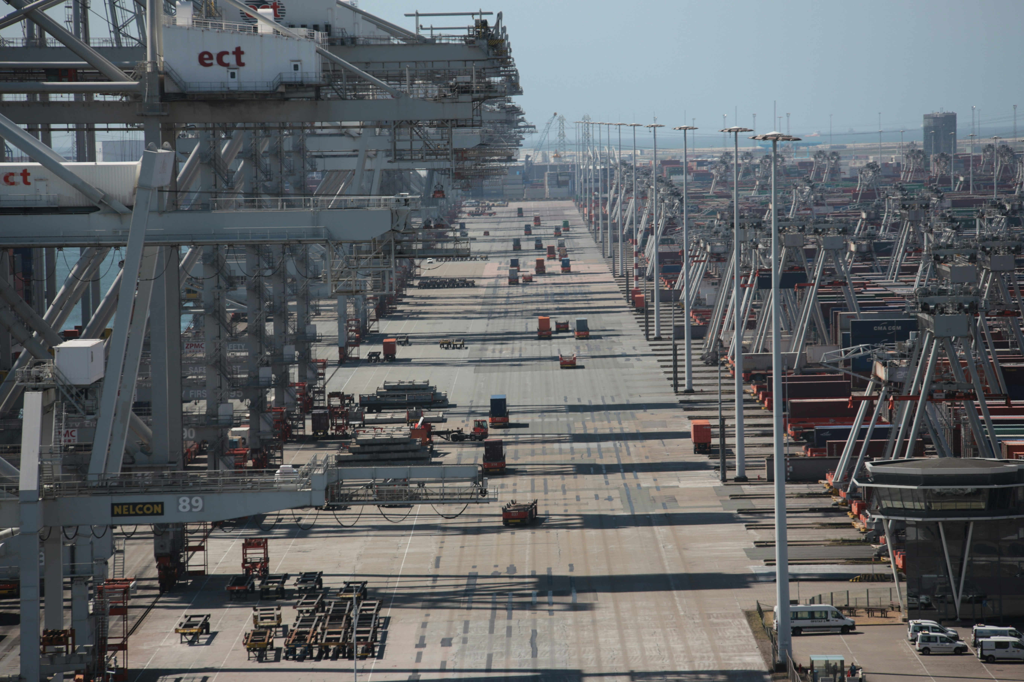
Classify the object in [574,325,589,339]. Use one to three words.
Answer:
vehicle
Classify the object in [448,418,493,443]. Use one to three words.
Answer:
work vehicle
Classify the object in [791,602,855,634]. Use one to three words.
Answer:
van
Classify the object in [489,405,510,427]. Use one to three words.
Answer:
vehicle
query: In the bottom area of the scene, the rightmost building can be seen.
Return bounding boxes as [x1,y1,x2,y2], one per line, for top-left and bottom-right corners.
[859,455,1024,621]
